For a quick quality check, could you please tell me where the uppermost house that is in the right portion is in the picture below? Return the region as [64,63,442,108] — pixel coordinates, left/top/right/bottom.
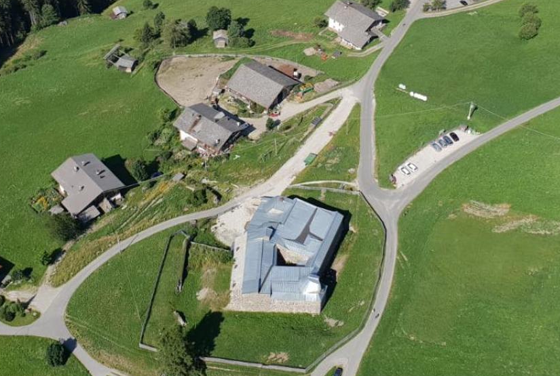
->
[322,0,392,44]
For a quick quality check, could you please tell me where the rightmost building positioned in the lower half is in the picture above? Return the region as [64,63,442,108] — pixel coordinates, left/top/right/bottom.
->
[242,195,344,311]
